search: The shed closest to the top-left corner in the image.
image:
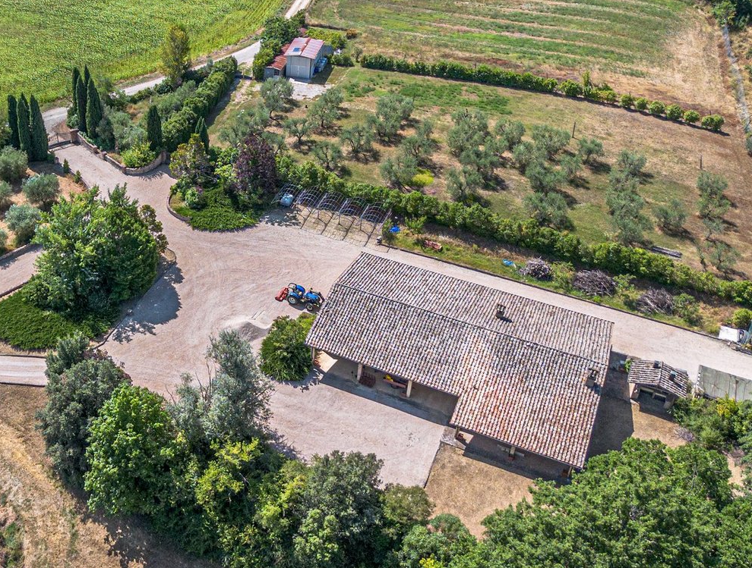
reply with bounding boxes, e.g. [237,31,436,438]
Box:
[272,43,336,79]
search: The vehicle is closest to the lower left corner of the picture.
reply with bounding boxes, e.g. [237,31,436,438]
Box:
[286,280,324,311]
